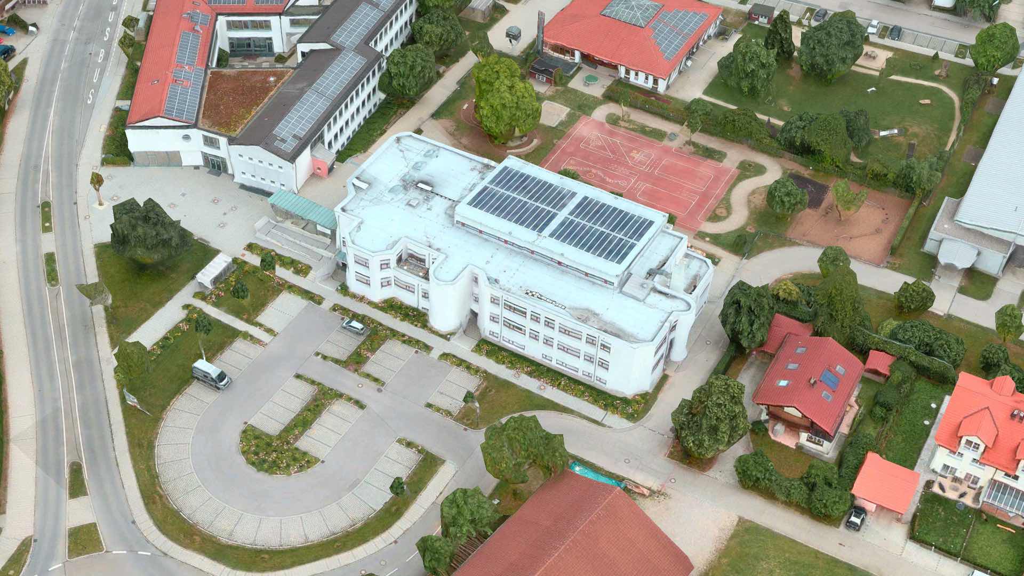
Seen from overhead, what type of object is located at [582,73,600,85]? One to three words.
umbrella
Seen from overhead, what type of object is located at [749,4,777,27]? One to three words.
shed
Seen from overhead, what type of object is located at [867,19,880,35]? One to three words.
vehicle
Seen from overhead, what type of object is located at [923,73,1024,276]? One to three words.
building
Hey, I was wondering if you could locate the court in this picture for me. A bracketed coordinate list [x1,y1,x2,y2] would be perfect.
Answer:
[534,116,739,233]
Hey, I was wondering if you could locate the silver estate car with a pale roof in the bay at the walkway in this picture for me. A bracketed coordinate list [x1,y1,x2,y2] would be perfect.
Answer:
[338,319,370,338]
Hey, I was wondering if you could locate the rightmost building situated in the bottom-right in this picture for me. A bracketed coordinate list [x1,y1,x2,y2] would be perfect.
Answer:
[927,373,1024,513]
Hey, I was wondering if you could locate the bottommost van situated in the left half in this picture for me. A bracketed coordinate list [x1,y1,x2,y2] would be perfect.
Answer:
[189,358,233,392]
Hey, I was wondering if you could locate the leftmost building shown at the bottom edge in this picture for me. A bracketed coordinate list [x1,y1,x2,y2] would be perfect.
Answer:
[462,470,692,576]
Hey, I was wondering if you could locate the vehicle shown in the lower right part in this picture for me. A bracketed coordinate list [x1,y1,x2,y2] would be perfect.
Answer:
[848,503,867,533]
